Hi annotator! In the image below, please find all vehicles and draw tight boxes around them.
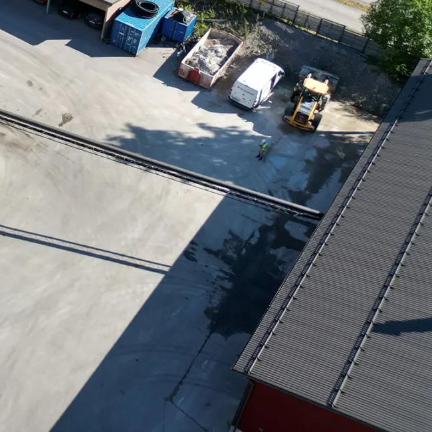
[285,63,344,127]
[30,0,55,7]
[61,0,92,20]
[234,58,285,107]
[83,7,106,30]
